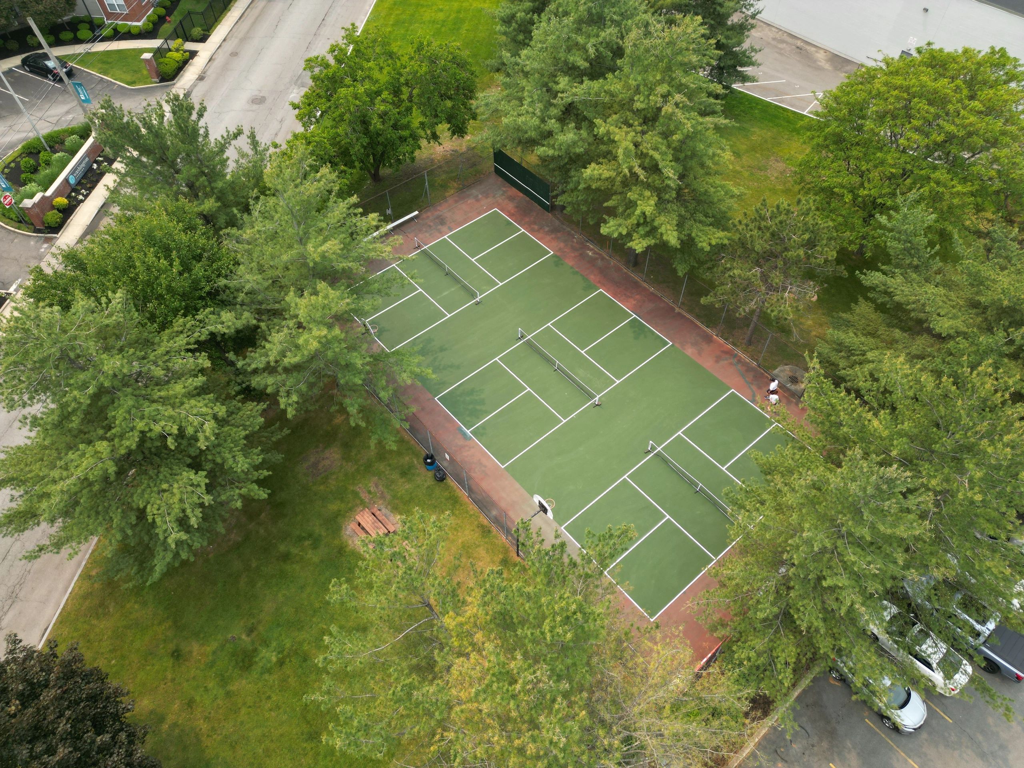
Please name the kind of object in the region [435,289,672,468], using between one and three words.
sports court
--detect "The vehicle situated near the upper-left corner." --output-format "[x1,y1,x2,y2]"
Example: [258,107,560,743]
[22,50,69,79]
